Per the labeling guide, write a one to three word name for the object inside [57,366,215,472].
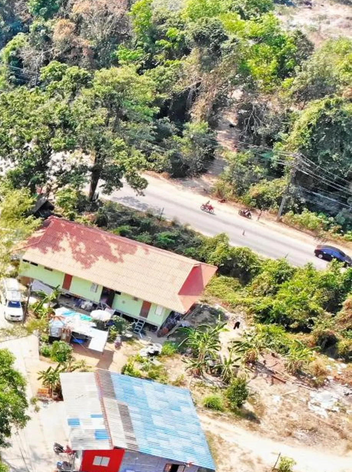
house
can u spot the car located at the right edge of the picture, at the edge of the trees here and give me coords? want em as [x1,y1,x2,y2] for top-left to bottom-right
[312,242,352,267]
